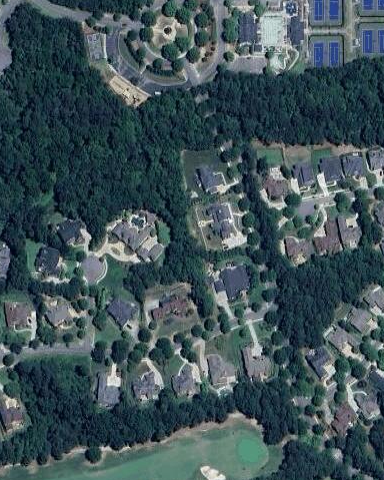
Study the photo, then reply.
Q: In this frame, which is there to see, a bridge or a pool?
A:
pool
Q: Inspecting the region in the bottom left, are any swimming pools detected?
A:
No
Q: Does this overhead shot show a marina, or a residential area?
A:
residential area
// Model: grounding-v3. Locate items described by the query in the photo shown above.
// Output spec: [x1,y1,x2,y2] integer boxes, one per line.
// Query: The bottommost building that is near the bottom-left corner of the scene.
[0,398,25,432]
